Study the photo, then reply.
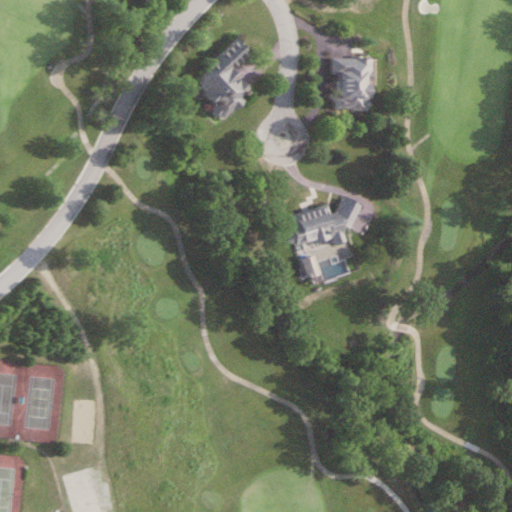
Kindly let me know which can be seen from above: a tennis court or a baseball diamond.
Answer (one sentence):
Visible in the photo is a tennis court.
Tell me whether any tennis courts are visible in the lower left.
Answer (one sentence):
Yes, there is a tennis court in the lower left.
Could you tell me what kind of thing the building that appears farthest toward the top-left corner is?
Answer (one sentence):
It looks like the building that appears farthest toward the top-left corner is a home.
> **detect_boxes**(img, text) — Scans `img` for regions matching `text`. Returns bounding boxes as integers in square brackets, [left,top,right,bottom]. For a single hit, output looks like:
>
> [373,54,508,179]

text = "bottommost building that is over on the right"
[297,253,320,280]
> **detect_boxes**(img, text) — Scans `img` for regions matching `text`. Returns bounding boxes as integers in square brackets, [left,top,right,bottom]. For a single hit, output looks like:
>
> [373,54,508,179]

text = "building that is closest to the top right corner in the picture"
[328,56,378,113]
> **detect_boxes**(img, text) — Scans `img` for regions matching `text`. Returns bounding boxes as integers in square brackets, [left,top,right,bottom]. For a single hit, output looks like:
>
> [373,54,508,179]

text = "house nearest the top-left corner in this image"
[198,40,252,124]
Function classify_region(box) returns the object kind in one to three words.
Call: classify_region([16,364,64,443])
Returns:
tennis court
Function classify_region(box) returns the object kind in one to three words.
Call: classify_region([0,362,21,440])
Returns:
tennis court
